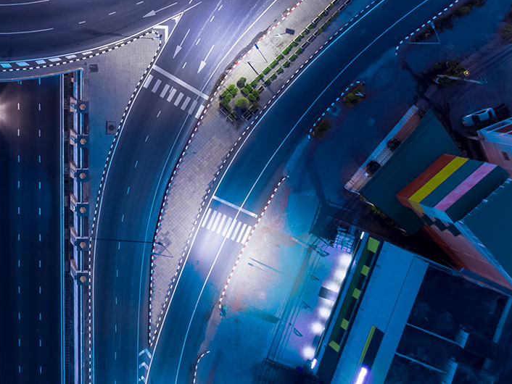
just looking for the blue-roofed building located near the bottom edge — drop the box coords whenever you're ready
[301,232,429,384]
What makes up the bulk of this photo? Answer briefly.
paved ground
